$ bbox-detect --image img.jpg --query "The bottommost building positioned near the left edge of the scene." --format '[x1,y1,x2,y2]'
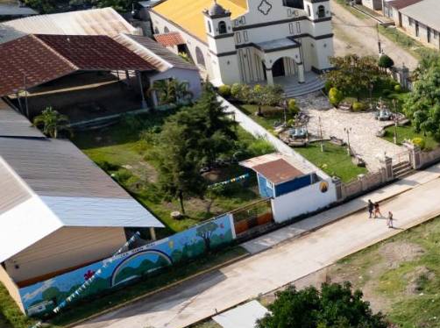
[0,135,165,312]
